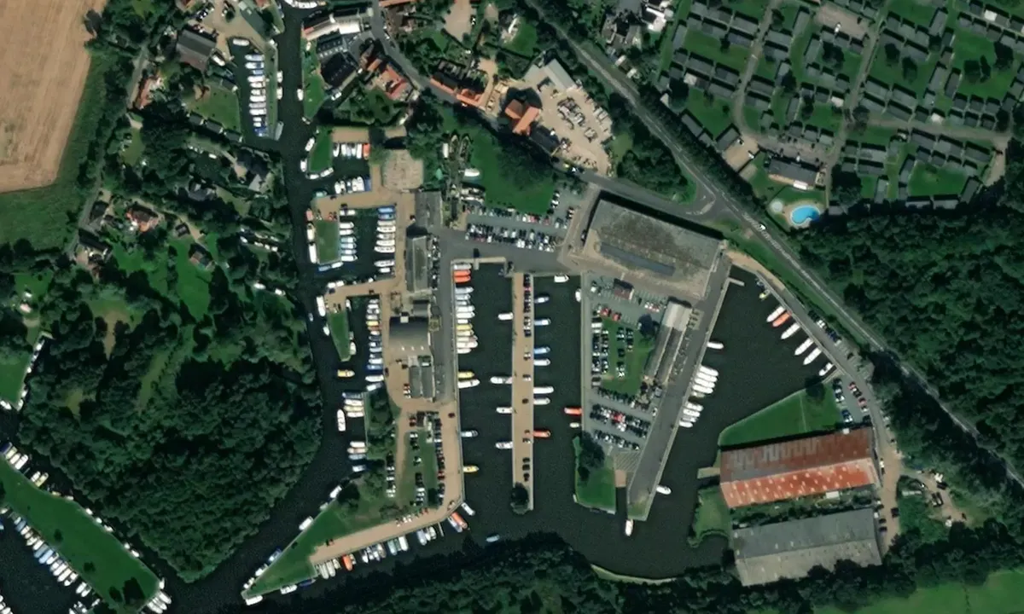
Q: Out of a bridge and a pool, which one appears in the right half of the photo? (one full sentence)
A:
Looking in the right half of the photo, you will find a pool.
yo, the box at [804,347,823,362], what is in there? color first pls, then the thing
white boat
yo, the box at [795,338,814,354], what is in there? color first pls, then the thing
white boat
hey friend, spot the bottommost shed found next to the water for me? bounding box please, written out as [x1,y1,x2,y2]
[731,508,882,587]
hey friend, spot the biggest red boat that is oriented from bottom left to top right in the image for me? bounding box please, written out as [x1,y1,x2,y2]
[774,310,793,325]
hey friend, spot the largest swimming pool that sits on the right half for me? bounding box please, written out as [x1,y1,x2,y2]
[784,200,824,232]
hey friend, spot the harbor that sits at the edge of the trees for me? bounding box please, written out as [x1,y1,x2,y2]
[7,51,841,601]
